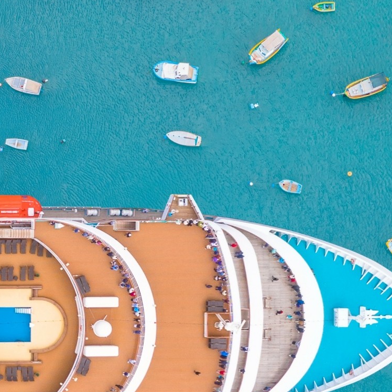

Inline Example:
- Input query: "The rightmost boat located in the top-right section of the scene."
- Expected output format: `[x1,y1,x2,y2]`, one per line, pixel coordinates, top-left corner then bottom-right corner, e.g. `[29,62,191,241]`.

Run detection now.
[339,71,392,99]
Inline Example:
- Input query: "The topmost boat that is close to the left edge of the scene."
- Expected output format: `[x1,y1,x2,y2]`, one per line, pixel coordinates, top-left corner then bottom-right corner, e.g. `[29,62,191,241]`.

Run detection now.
[2,77,43,95]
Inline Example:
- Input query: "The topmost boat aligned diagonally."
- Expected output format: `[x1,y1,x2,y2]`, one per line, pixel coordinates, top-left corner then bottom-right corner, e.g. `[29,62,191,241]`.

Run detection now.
[245,26,291,64]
